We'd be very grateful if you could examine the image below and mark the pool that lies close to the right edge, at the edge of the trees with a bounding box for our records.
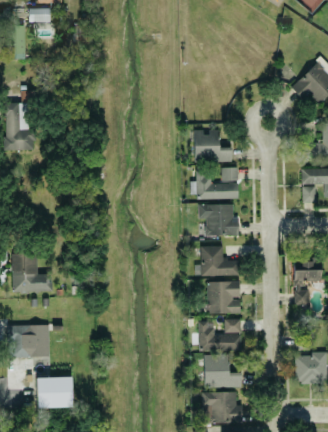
[310,288,324,316]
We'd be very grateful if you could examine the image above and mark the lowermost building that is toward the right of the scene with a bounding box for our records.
[202,392,242,424]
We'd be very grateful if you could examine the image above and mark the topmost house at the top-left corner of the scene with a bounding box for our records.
[29,8,50,22]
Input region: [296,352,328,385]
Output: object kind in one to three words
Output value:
house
